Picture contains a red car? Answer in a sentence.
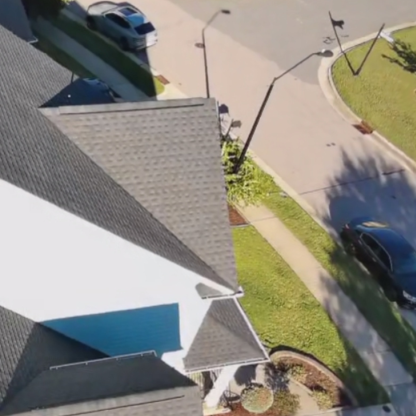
No, the scene contains no red car.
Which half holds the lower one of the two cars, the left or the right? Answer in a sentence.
You can find the lower one of the two cars on the right side of the picture.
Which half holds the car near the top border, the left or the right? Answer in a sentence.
It is on the left.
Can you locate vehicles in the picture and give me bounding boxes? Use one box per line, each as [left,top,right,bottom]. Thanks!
[81,5,156,50]
[346,215,416,304]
